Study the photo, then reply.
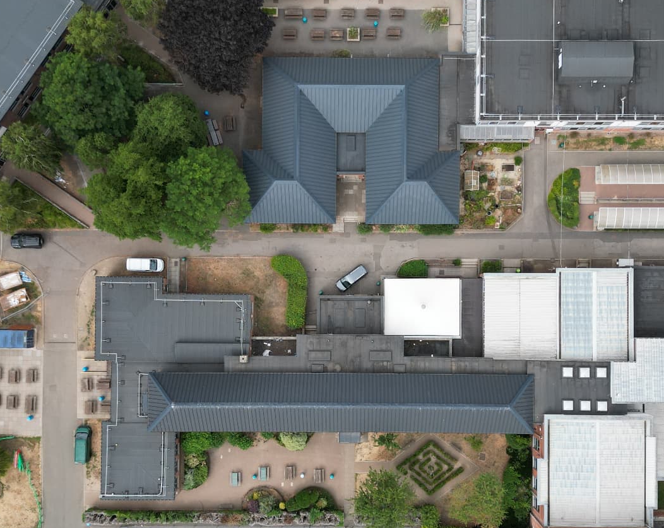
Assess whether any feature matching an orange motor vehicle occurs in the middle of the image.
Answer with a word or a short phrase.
No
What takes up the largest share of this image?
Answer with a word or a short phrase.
buildings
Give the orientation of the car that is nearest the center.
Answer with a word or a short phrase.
at an angle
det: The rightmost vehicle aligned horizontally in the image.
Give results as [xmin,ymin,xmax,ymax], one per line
[125,256,165,273]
